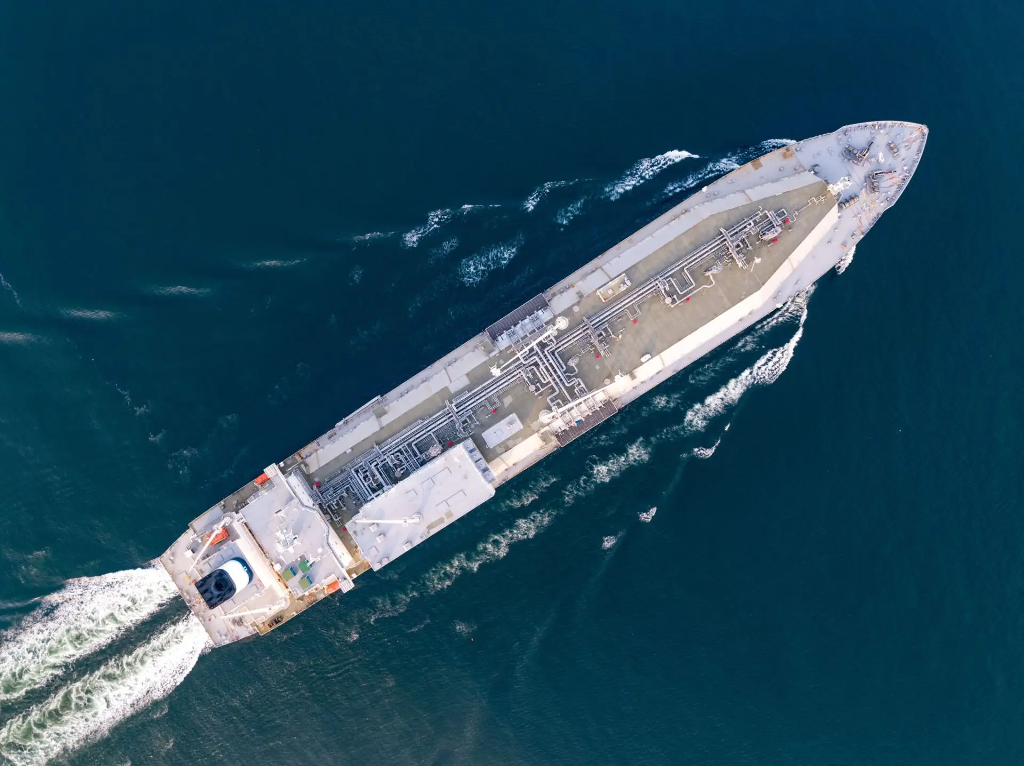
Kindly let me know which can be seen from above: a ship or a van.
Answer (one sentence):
It is a ship that can be seen here.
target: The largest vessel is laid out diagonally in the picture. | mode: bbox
[159,118,931,649]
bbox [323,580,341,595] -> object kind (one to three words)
boat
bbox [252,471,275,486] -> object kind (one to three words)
boat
